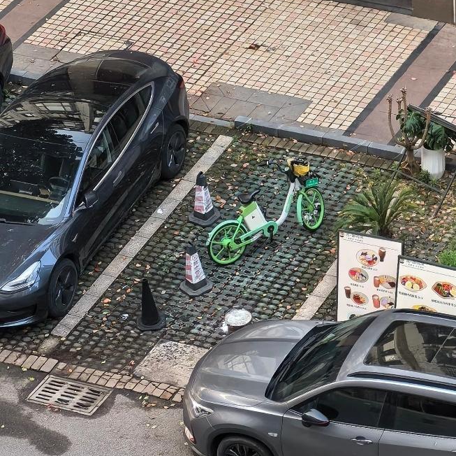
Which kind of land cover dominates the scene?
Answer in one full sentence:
The bulk of the photo consists of paved ground.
